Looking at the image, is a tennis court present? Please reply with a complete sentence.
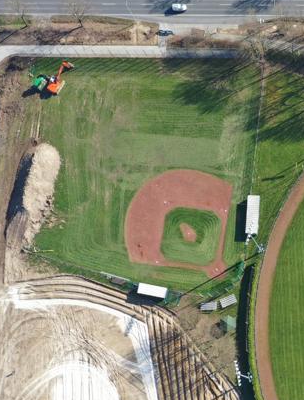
No, the frame has no tennis court in it.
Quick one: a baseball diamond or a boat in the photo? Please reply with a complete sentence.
This aerial view contains a baseball diamond.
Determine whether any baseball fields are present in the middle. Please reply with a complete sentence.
Yes, the scene does show a baseball field in the middle.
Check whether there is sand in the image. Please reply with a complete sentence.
Yes, sand can be seen from above here.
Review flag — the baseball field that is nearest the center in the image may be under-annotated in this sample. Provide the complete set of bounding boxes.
[29,59,261,308]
